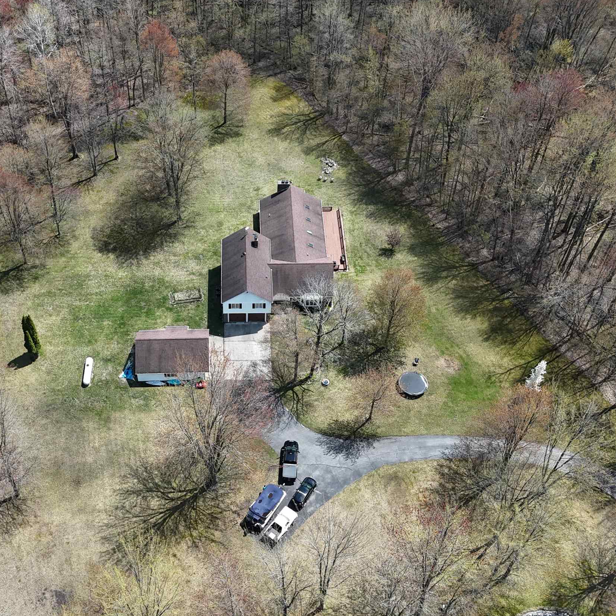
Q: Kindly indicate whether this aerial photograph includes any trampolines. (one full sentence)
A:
Yes, looking at the shot, I can spot a trampoline.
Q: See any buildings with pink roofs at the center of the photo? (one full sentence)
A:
No, no building with a pink roof appears at the center of the photo.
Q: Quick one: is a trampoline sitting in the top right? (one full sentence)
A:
No, there is no trampoline in the top right.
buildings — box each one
[220,178,333,322]
[135,327,210,380]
